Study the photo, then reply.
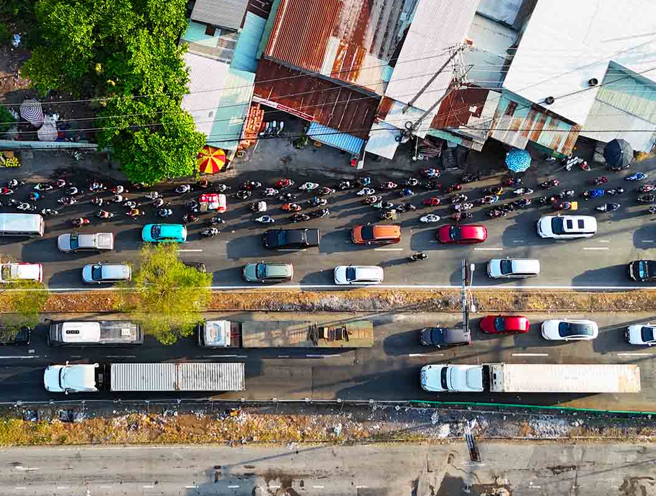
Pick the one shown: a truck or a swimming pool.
truck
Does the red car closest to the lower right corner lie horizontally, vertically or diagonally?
horizontally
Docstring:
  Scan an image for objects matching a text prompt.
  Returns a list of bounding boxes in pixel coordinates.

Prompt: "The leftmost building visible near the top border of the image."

[180,0,268,162]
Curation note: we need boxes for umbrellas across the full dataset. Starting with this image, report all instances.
[20,100,43,123]
[504,149,530,172]
[36,121,57,141]
[601,143,633,169]
[198,148,226,173]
